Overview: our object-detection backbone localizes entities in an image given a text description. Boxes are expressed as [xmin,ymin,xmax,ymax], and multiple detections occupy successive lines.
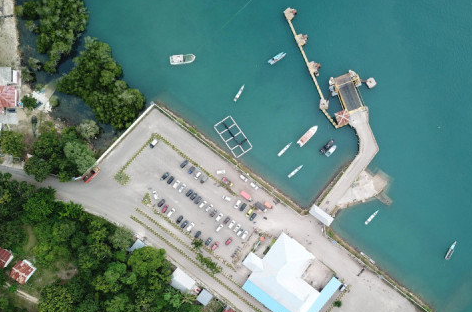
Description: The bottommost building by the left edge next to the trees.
[11,260,37,285]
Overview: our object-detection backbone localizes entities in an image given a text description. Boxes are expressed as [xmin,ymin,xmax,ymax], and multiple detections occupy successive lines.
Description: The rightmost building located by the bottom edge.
[242,232,341,312]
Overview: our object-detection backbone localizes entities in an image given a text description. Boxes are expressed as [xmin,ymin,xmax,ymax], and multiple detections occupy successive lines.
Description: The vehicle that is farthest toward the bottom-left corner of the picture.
[82,167,98,184]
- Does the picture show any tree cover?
Yes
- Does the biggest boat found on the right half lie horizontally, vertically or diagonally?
diagonally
